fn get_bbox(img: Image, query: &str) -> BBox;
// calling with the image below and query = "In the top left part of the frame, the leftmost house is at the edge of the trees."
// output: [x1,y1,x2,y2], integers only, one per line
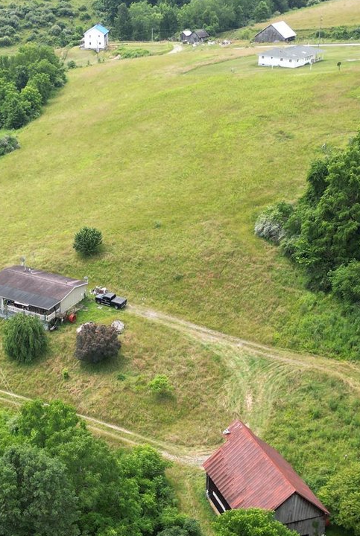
[78,18,111,50]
